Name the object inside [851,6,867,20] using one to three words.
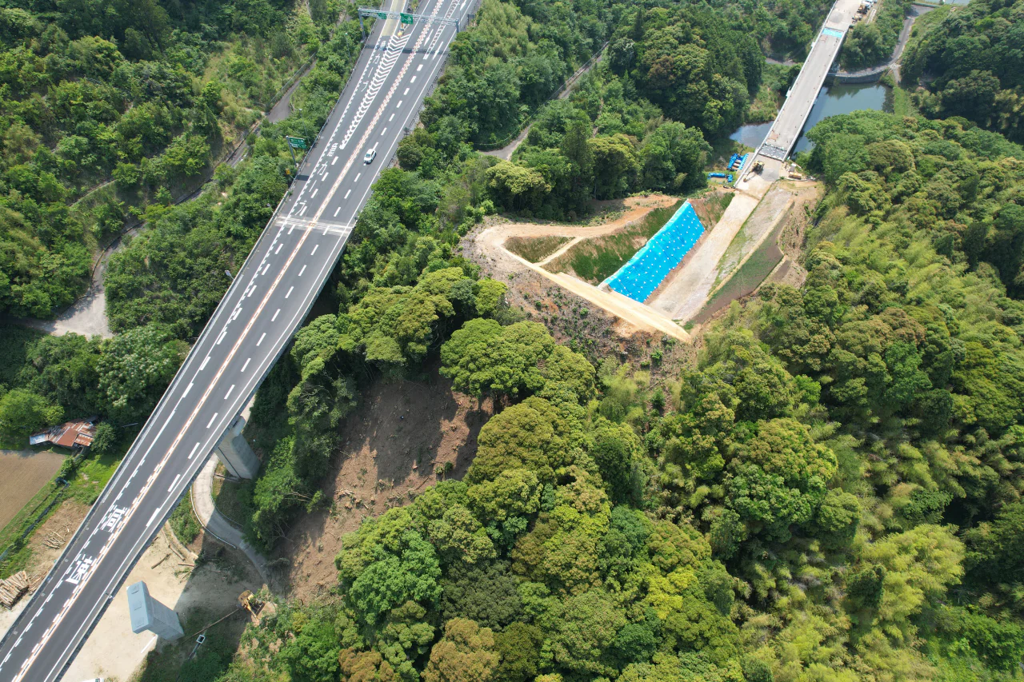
vehicle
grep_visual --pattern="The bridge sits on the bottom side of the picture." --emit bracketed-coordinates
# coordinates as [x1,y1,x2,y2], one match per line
[0,237,353,682]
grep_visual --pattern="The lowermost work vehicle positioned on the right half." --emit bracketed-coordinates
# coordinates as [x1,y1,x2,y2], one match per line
[745,157,766,180]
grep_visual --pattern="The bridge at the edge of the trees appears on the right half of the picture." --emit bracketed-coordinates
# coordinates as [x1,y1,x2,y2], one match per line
[737,0,848,192]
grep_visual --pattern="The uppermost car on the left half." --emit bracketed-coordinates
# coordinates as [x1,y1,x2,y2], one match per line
[361,147,376,163]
